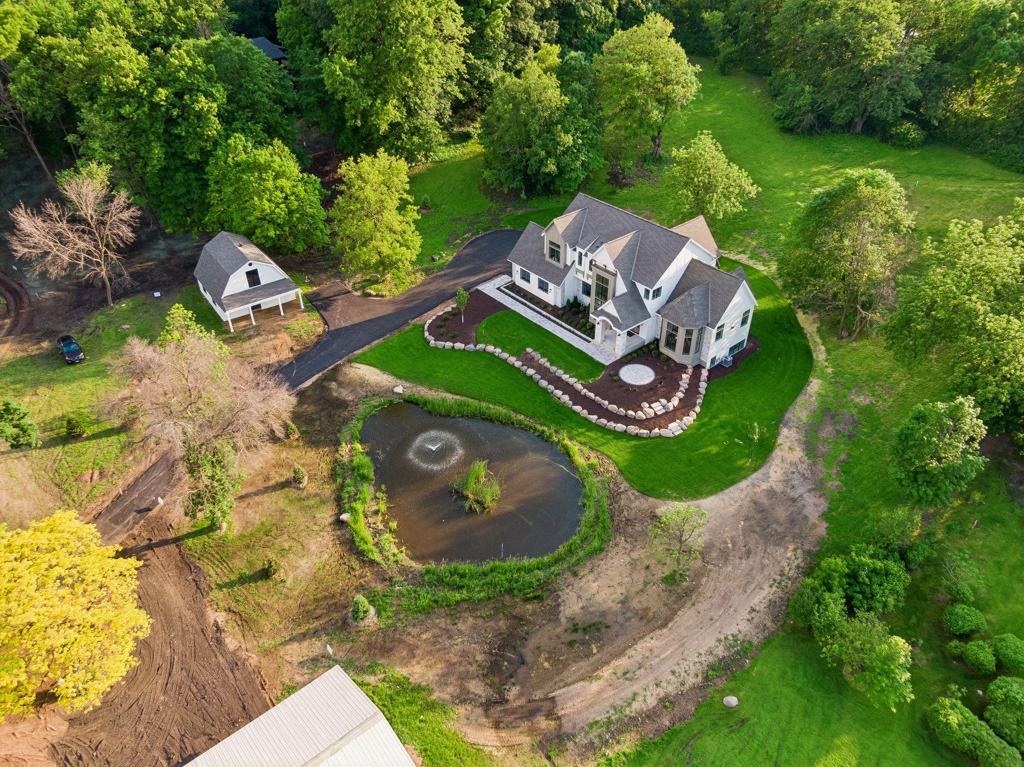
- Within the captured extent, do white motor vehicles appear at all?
No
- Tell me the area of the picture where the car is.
left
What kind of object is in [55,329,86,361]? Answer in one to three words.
car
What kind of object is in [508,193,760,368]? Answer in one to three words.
house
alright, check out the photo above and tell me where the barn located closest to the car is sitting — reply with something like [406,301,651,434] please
[192,230,305,332]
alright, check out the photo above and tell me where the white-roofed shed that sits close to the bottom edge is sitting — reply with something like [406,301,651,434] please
[185,664,417,767]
